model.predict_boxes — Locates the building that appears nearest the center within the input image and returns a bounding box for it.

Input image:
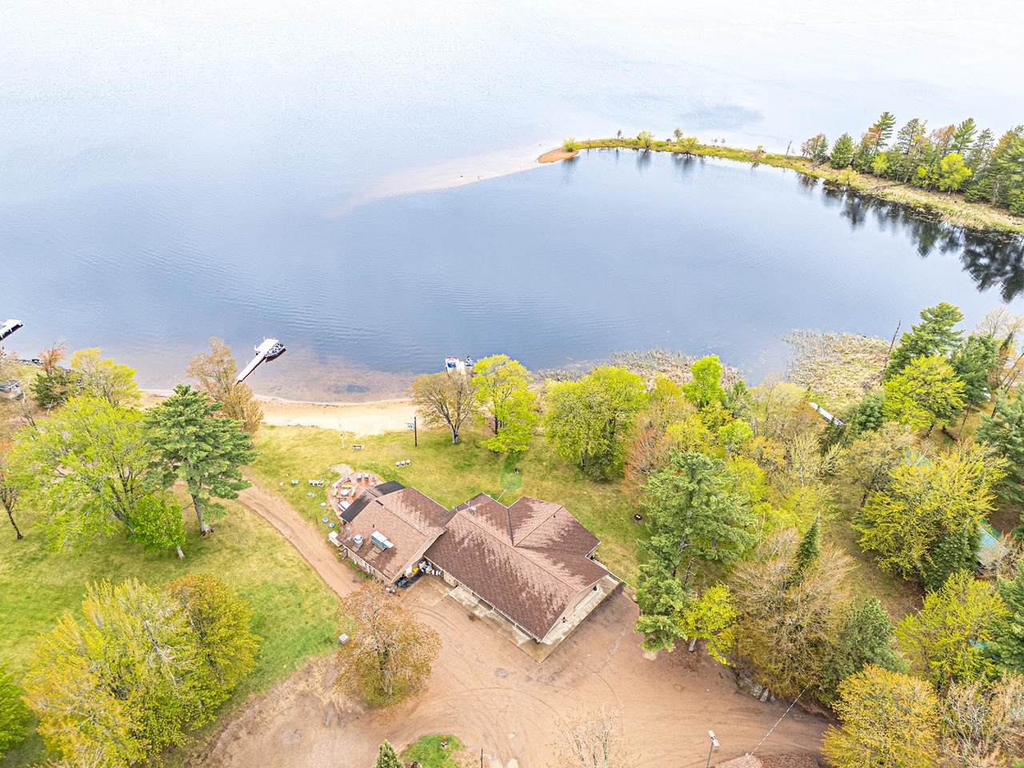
[338,479,606,653]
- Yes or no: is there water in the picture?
Yes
